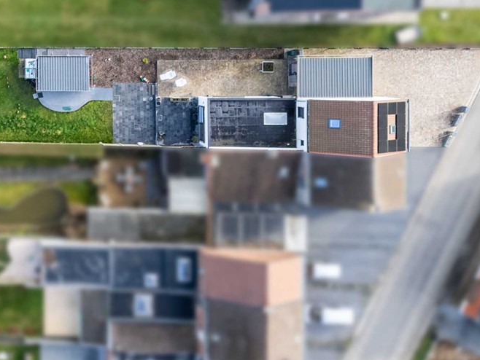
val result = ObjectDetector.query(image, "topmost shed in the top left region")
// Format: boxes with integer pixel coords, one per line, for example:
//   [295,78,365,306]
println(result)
[33,55,93,91]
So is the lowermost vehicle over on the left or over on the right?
right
